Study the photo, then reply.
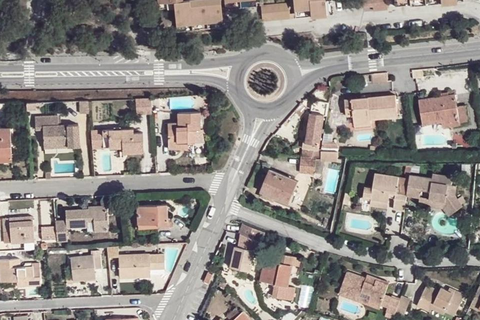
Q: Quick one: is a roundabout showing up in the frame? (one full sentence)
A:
Yes, there's a roundabout here.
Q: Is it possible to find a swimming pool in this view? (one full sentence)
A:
Yes, looking at the shot, I can spot a swimming pool.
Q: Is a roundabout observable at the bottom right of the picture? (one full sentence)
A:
No, there is no roundabout at the bottom right of the picture.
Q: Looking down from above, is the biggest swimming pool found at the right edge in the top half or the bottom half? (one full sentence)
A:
The biggest swimming pool found at the right edge sits in the bottom half of the picture.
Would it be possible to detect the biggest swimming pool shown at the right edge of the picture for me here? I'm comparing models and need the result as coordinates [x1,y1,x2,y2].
[432,212,456,236]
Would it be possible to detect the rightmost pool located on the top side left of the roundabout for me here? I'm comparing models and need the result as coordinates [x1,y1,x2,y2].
[169,96,194,110]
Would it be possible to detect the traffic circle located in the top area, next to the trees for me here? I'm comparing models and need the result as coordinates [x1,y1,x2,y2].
[228,44,302,118]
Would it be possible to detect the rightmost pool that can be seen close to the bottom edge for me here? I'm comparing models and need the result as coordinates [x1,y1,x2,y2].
[340,299,364,314]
